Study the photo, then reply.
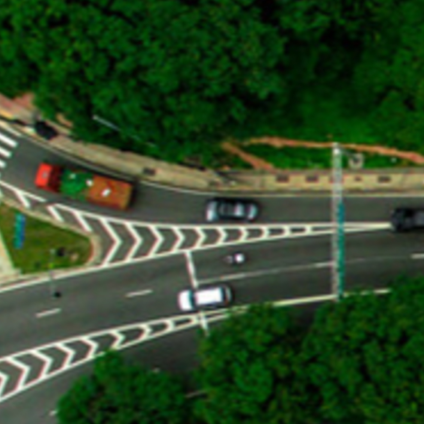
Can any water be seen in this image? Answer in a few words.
No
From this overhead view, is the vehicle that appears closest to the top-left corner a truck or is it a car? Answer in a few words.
truck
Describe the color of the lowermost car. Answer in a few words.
white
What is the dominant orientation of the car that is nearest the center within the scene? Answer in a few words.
horizontally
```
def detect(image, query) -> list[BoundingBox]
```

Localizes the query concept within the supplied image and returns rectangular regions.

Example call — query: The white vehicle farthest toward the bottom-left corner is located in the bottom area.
[177,283,234,312]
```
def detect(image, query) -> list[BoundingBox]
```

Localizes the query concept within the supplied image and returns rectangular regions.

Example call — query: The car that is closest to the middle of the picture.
[206,196,260,221]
